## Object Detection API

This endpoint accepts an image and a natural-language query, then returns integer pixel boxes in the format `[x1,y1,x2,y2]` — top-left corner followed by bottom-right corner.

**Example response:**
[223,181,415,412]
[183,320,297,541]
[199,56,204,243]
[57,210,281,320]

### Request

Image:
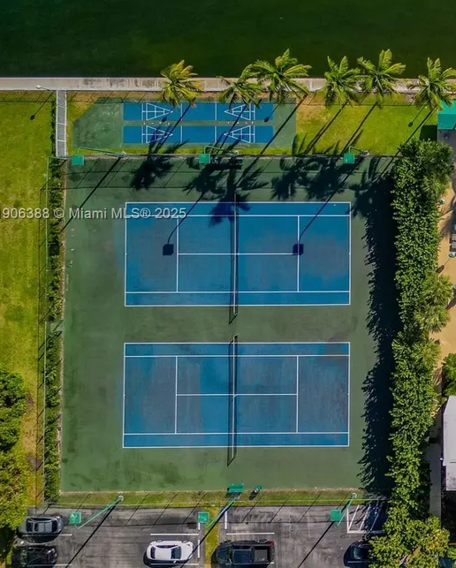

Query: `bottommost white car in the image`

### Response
[148,539,197,563]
